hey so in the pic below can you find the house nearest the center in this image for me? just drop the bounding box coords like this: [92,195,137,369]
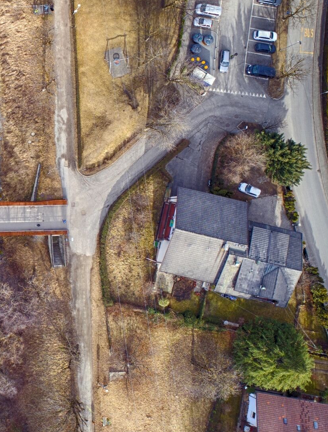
[147,187,303,307]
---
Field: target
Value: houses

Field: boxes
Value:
[243,387,328,432]
[147,187,303,307]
